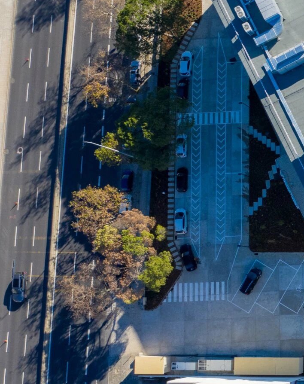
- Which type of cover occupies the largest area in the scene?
paved ground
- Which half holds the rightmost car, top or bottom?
bottom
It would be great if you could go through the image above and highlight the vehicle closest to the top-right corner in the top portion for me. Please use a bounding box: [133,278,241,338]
[179,51,194,77]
